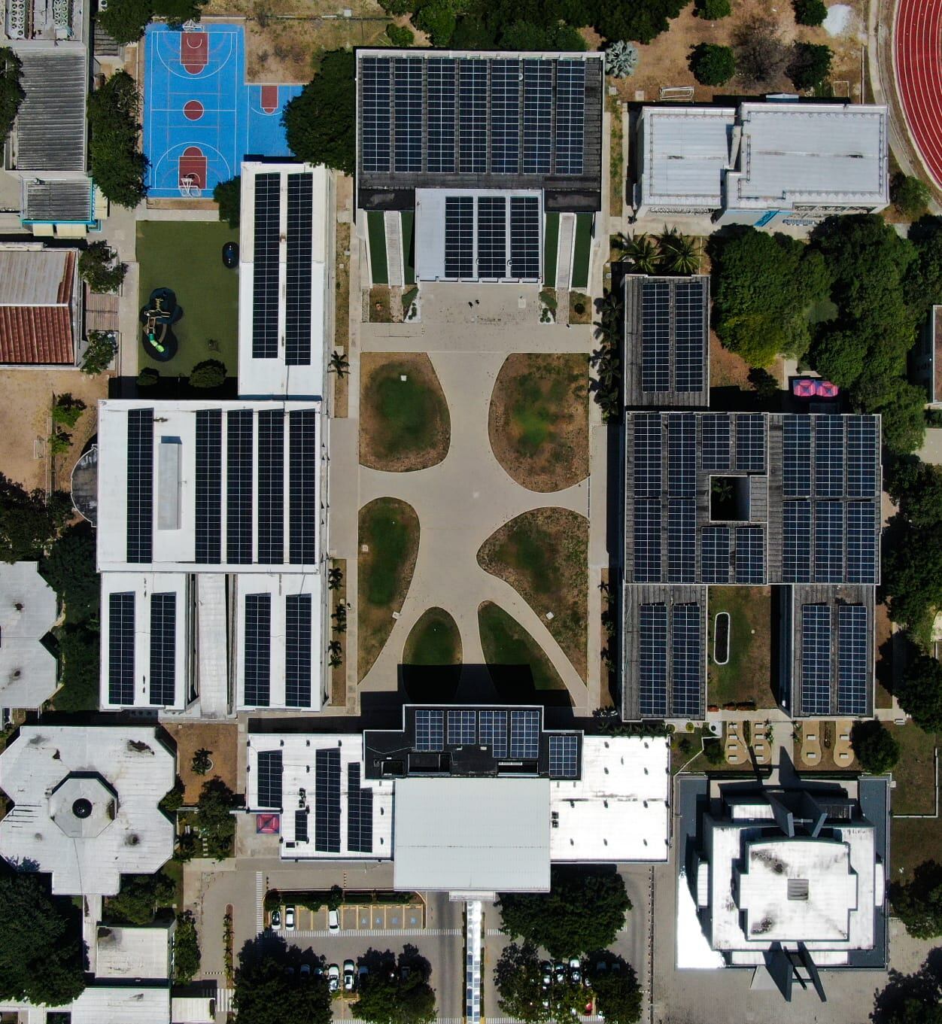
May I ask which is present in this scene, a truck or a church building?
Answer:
church building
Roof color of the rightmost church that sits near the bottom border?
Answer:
white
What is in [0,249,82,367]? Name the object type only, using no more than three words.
house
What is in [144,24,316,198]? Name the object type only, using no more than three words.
sports court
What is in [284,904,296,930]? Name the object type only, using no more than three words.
vehicle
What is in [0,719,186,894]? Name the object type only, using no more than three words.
building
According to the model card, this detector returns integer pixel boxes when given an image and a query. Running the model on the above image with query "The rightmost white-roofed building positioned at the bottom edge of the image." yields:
[693,778,885,1002]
